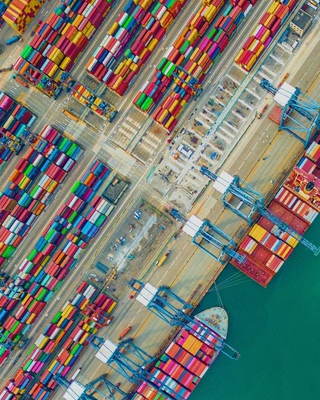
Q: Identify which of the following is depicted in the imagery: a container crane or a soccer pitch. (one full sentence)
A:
This aerial view contains a container crane.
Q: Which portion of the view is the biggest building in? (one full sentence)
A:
Look in the top right portion of the view to spot the biggest building.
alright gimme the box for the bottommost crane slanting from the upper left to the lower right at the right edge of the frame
[200,165,320,257]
